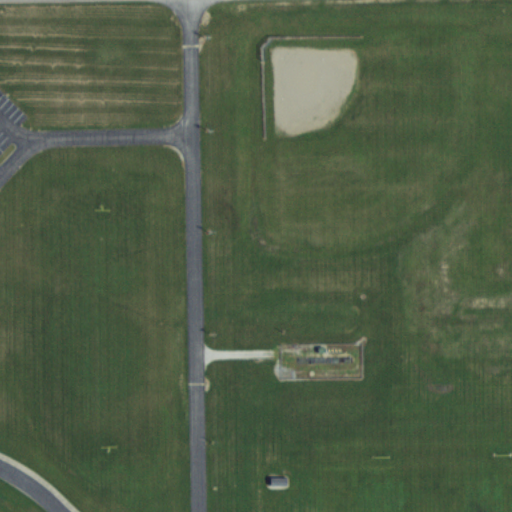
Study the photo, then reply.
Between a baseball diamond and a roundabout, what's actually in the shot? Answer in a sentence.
I can see a baseball diamond in this picture.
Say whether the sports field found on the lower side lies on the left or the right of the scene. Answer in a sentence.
The sports field found on the lower side appears in the left half of the scene.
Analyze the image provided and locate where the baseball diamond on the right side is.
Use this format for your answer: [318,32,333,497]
[267,44,483,258]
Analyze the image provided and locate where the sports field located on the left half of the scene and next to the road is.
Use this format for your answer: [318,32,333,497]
[50,211,162,447]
